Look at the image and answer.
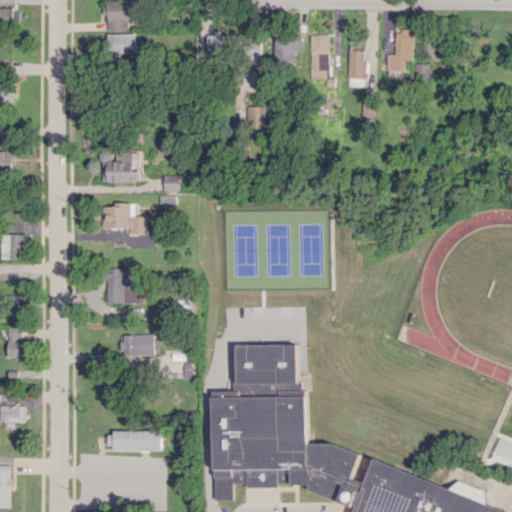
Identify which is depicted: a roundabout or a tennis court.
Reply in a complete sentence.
Visible in the photo is a tennis court.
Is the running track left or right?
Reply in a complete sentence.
The running track is on the right side of the image.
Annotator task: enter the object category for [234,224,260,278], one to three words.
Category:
tennis court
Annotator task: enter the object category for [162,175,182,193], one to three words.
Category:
building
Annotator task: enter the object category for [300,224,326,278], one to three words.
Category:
tennis court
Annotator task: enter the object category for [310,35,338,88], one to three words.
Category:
house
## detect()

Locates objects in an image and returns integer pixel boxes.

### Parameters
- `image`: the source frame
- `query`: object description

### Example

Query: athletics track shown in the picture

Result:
[398,209,512,385]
